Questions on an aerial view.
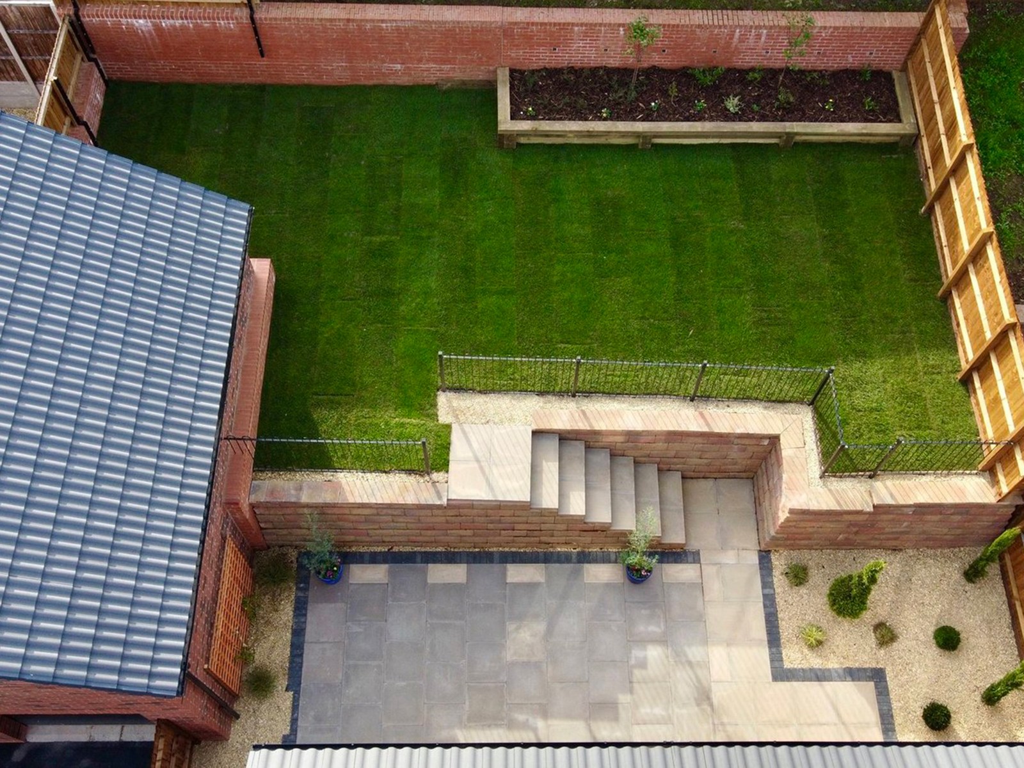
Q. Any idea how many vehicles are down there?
0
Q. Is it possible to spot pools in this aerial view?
No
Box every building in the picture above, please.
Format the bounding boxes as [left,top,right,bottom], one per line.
[0,117,259,741]
[251,735,1024,768]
